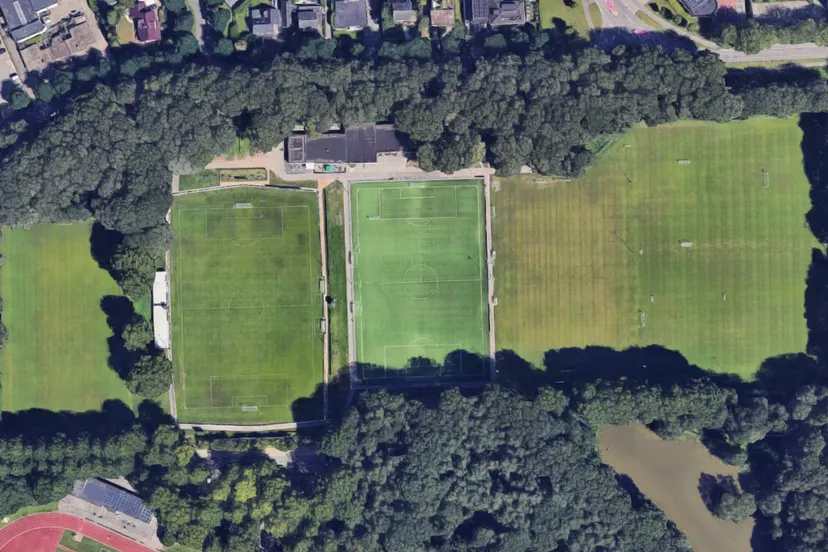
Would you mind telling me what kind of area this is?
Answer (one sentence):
The area seen from above is a sports ground.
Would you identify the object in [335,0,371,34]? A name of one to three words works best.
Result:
house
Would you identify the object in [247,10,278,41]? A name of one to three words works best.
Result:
house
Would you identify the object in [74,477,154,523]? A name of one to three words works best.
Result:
building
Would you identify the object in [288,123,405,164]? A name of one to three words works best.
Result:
building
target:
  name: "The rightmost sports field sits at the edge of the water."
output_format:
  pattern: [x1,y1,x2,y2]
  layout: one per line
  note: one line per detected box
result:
[491,111,828,398]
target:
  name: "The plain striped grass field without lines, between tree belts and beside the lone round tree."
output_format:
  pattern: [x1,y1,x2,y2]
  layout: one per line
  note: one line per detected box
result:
[0,214,172,445]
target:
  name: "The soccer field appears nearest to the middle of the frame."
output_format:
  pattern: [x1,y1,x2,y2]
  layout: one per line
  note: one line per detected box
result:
[351,179,490,385]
